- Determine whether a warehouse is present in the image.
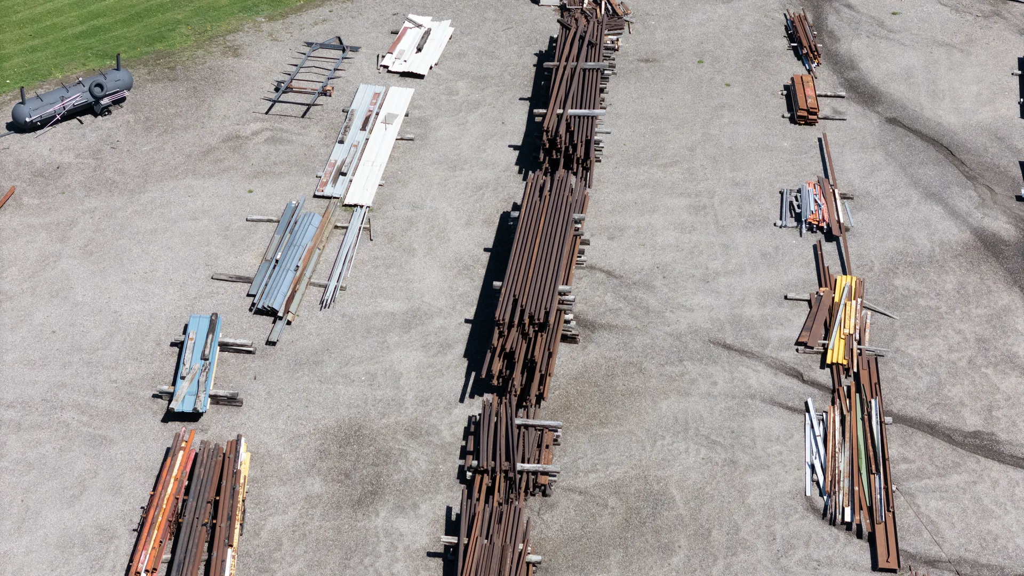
No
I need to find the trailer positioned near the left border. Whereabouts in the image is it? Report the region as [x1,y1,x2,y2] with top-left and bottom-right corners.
[0,54,132,137]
